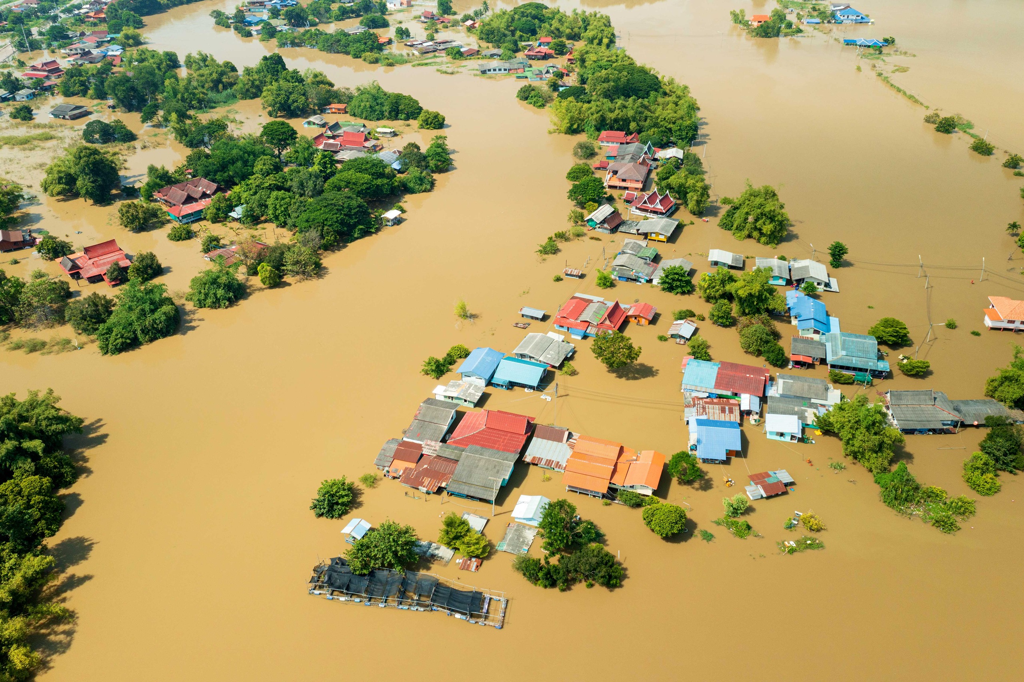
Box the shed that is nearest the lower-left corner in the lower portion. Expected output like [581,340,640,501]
[341,519,371,546]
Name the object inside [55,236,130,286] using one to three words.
house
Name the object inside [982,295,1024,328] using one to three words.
house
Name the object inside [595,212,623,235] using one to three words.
shed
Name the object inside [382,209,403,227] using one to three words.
gazebo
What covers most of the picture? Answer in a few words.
water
